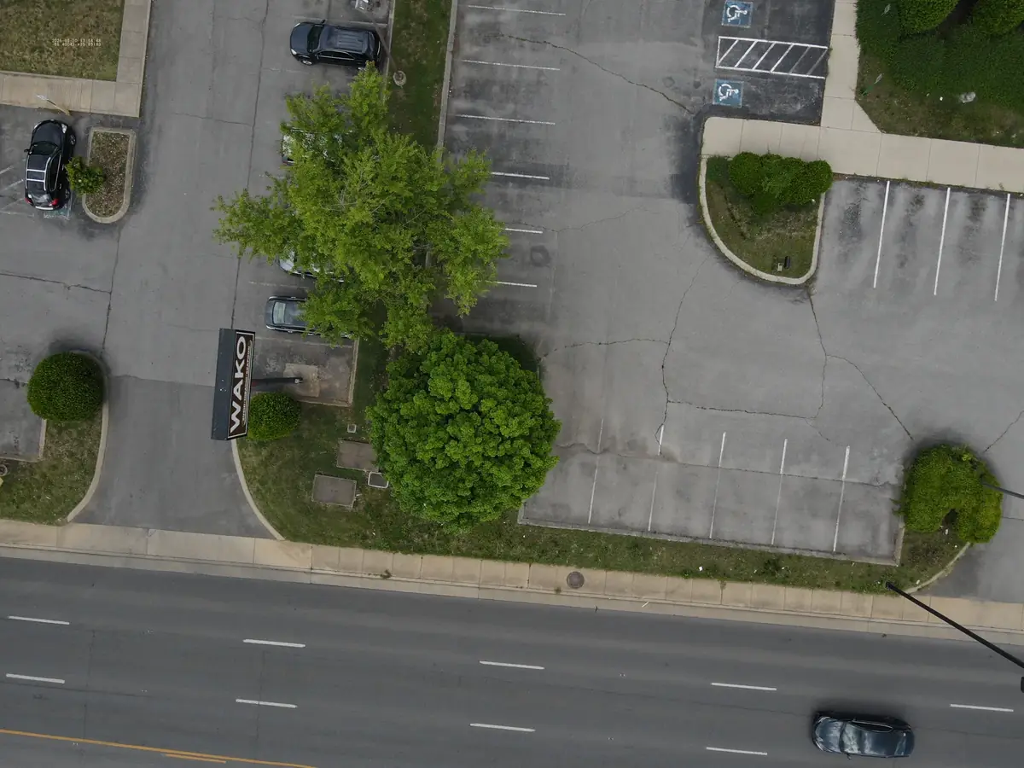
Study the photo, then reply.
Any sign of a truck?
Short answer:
No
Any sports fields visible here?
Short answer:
No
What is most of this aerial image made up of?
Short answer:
paved ground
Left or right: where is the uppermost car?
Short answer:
left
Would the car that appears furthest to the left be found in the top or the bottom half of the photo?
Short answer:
top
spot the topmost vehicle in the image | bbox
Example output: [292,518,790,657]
[290,19,384,71]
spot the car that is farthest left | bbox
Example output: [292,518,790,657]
[22,119,79,213]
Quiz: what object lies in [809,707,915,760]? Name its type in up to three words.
car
